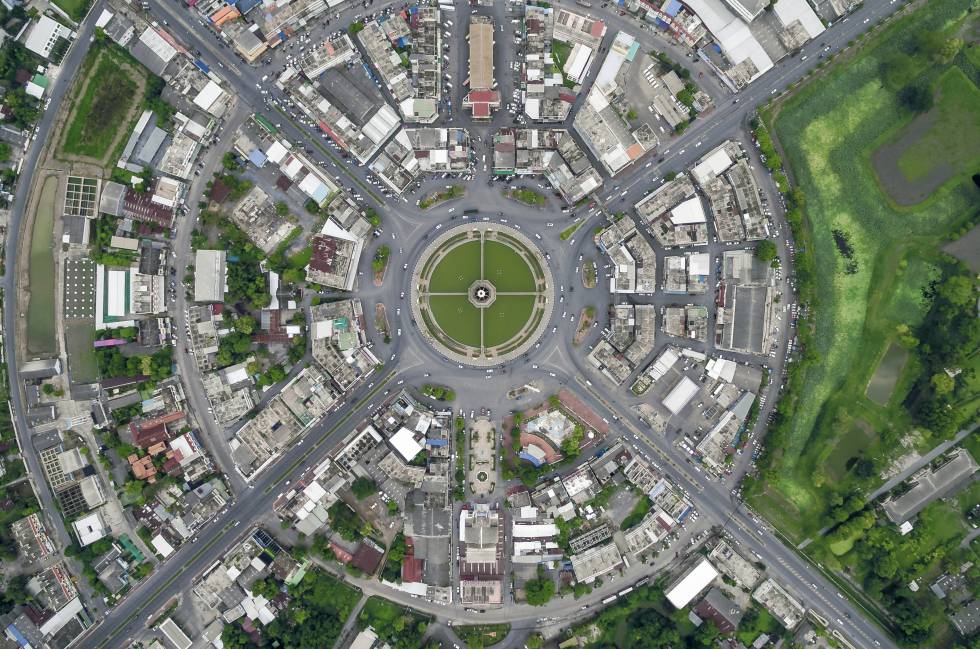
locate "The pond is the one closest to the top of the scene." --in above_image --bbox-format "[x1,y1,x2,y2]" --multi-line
[875,110,952,204]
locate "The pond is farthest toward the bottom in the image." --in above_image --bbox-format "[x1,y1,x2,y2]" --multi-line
[823,420,879,483]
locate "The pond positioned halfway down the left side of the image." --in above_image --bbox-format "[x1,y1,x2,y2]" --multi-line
[65,317,101,385]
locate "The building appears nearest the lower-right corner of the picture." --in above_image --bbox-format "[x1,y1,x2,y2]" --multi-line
[949,598,980,636]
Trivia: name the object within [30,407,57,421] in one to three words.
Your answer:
shed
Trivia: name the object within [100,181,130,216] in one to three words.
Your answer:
hangar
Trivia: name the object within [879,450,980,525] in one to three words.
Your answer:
house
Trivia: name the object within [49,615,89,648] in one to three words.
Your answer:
building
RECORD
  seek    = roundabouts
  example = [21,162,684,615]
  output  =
[411,222,553,366]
